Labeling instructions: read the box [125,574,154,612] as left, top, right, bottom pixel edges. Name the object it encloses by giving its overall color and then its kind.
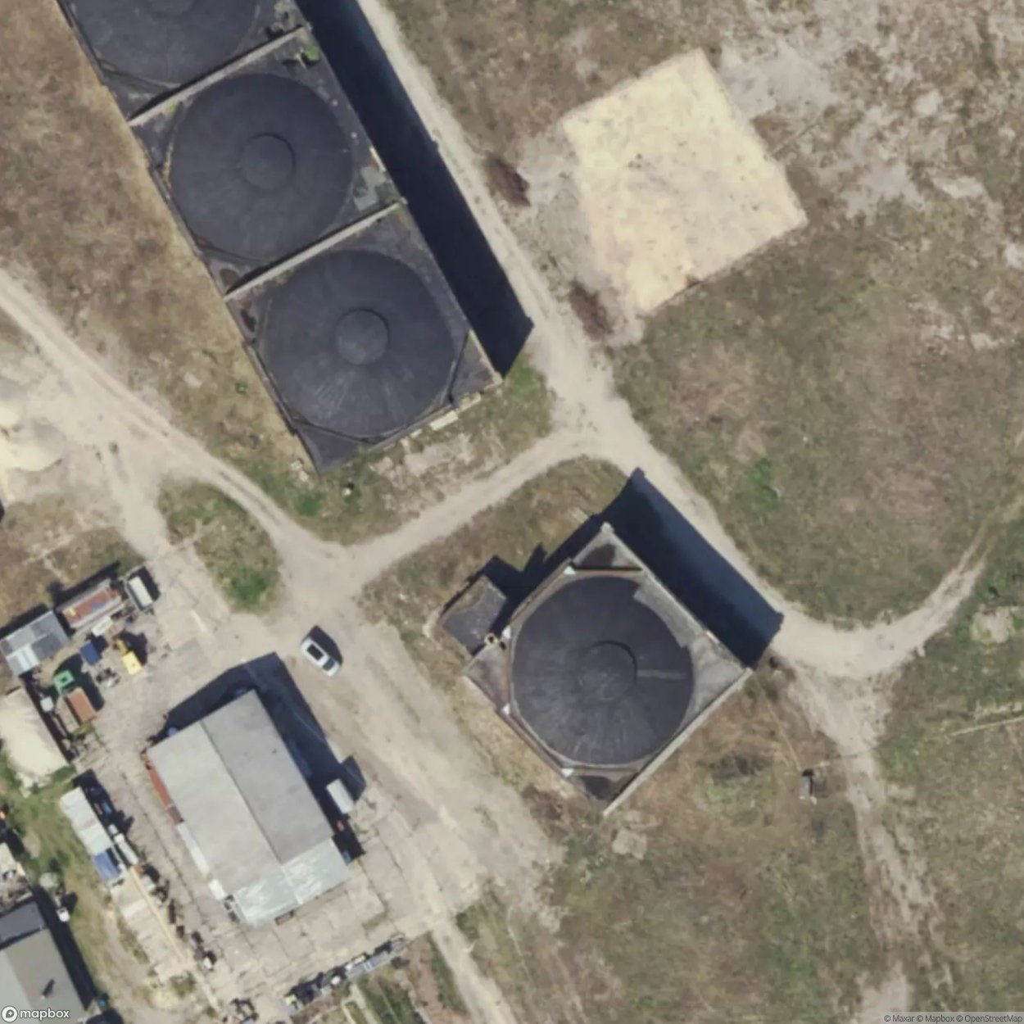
white van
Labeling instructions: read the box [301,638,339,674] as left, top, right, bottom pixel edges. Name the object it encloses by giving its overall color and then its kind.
white car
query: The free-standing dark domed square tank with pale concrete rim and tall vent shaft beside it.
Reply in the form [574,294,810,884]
[461,525,752,815]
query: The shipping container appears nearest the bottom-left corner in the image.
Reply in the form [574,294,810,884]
[68,687,96,723]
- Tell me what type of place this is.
industrial area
